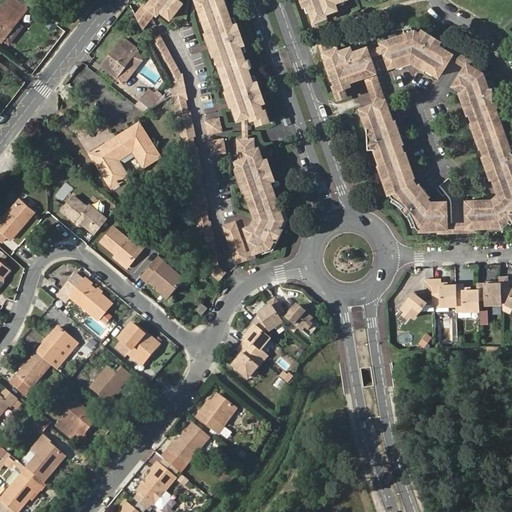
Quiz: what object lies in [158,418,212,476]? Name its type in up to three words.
house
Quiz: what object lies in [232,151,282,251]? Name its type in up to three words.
building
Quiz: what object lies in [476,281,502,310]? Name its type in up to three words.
house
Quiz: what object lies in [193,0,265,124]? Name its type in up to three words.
building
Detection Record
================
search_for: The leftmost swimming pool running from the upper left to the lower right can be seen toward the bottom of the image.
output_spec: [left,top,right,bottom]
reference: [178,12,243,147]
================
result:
[84,316,105,337]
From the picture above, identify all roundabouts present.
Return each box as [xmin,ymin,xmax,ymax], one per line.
[301,209,397,305]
